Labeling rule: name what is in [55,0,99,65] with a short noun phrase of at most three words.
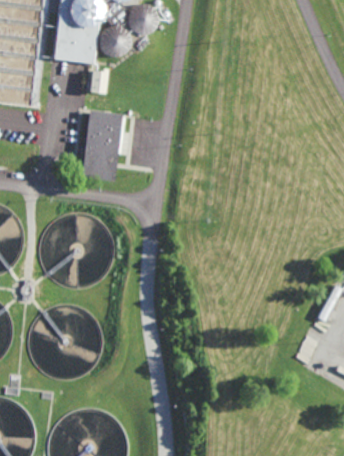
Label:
building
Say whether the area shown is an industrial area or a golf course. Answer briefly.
industrial area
